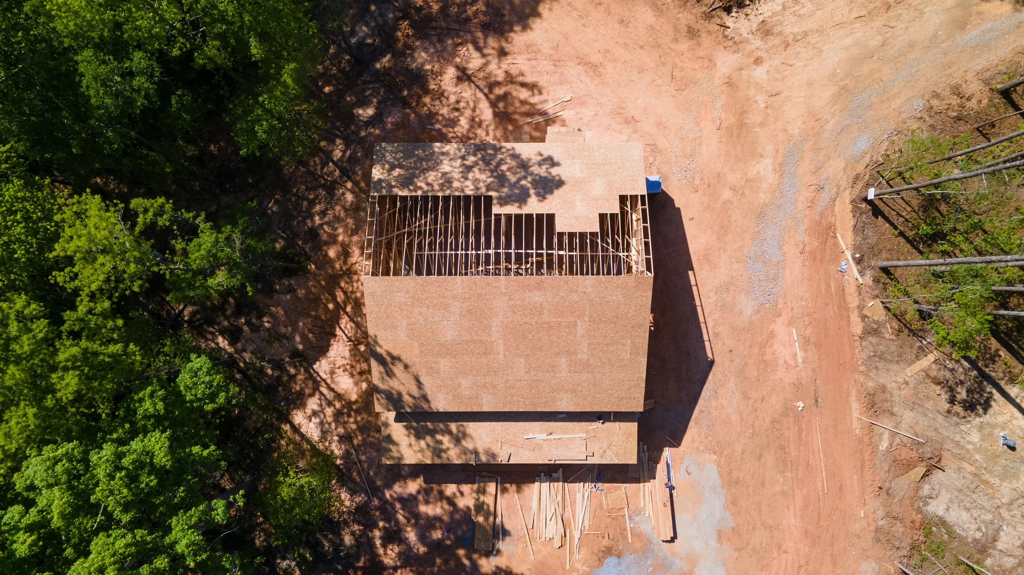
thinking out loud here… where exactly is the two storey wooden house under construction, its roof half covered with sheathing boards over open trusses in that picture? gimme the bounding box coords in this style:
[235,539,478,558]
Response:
[364,142,653,467]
